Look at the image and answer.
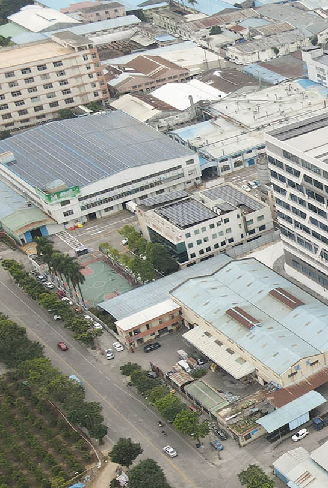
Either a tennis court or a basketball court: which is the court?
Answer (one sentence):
It turns out the court is a basketball court.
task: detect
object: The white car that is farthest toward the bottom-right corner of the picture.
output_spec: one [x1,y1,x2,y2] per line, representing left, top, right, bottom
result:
[290,426,310,443]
